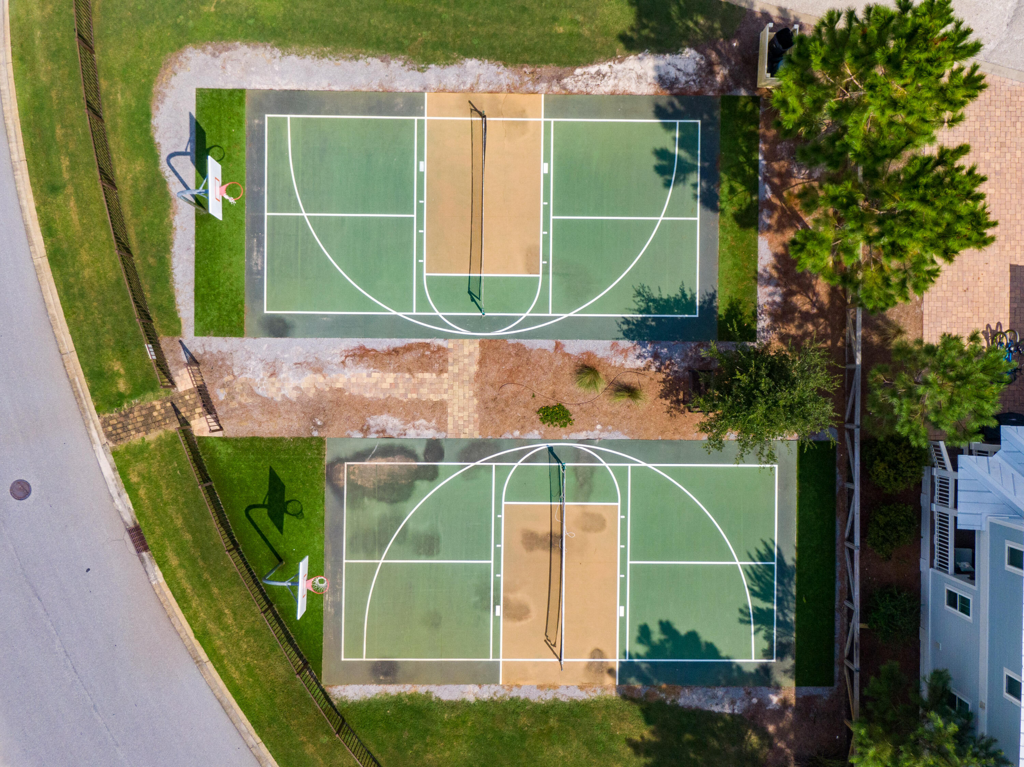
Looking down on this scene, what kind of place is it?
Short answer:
sports ground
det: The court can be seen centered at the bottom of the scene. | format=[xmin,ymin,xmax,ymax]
[322,438,797,687]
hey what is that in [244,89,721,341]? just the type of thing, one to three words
sports court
